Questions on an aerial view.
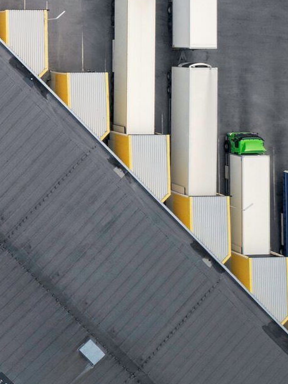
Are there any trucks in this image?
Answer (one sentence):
Yes, a truck appears in the view.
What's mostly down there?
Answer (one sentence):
The scene is dominated by buildings.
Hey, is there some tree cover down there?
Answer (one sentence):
No, the picture contains no tree cover.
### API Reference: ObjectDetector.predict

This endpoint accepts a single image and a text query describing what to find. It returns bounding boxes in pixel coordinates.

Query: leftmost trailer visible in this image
[108,0,156,133]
